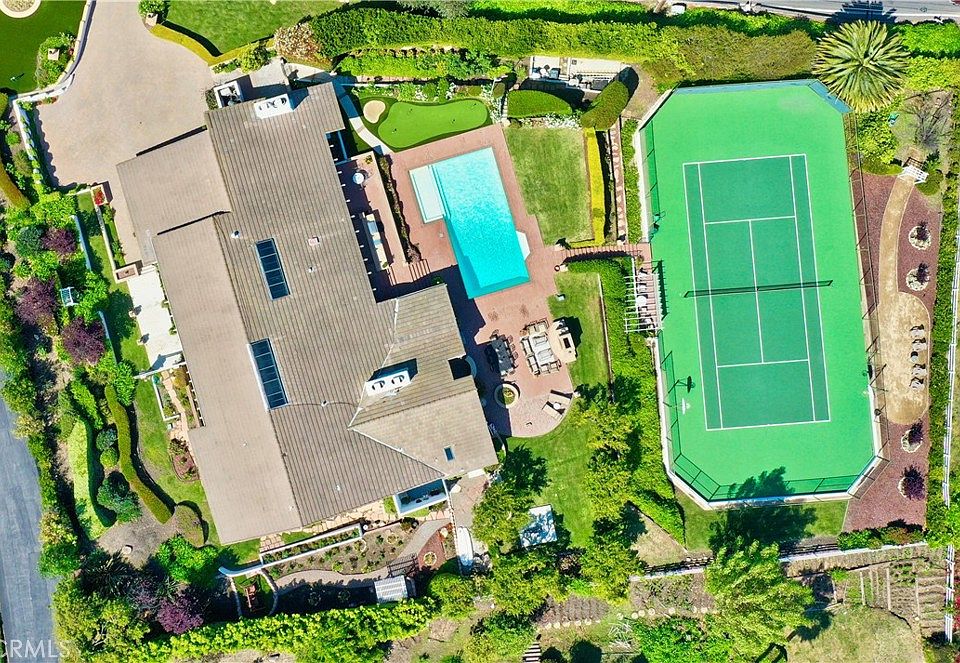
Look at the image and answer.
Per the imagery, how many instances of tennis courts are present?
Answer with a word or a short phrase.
1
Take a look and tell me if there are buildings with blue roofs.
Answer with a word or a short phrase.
No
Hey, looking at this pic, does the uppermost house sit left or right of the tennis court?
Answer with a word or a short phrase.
left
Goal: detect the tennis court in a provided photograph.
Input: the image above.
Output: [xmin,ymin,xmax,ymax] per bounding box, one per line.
[641,88,875,501]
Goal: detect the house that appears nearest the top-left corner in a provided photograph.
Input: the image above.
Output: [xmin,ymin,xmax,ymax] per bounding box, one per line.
[115,82,497,545]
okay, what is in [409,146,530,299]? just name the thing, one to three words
swimming pool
